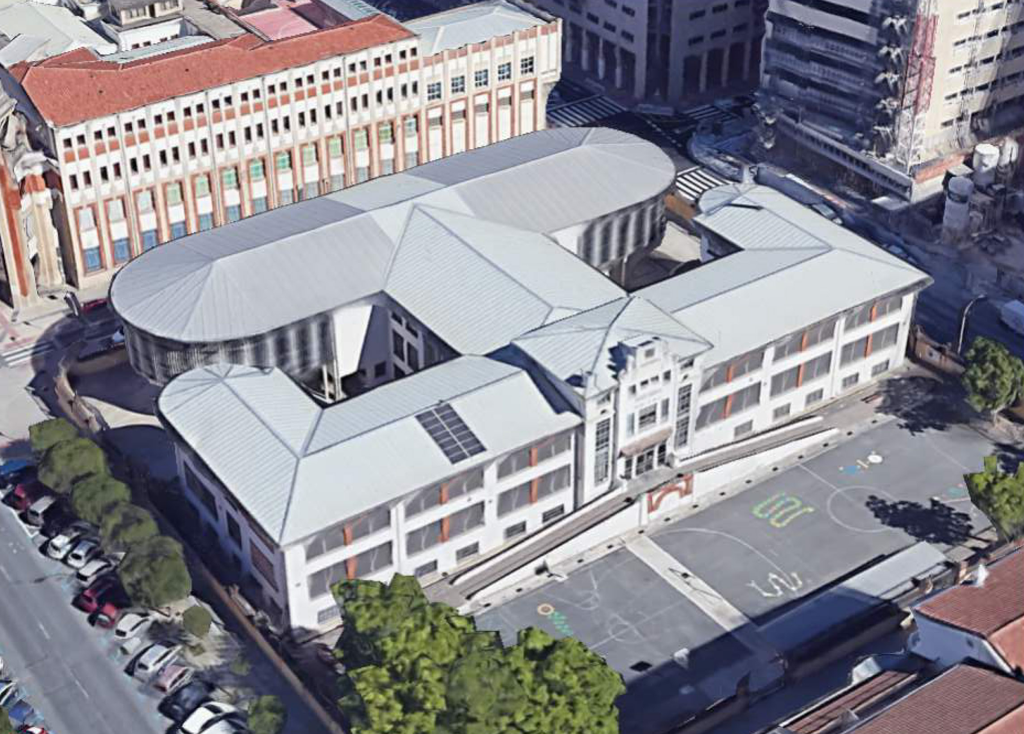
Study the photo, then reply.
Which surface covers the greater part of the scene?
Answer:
buildings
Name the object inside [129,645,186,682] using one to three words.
car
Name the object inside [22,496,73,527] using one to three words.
car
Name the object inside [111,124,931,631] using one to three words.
building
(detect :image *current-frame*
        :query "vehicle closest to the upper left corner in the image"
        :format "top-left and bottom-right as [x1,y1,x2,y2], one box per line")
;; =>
[85,287,112,311]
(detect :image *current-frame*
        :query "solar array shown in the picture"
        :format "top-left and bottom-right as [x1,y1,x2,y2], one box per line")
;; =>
[413,397,495,468]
